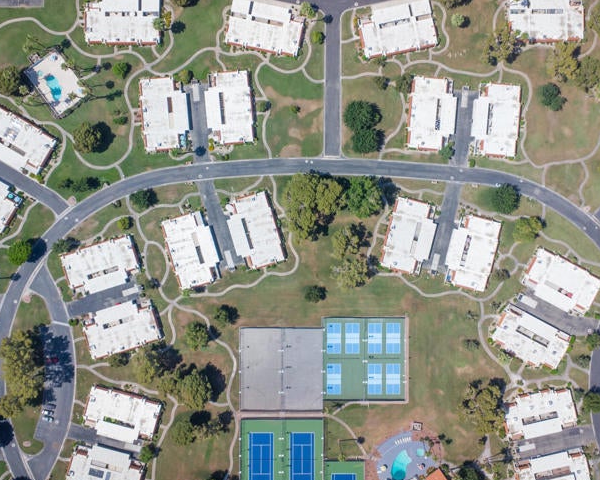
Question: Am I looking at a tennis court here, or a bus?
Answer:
tennis court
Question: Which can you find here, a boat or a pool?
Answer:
pool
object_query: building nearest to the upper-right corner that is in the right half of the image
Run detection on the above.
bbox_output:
[505,0,585,45]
